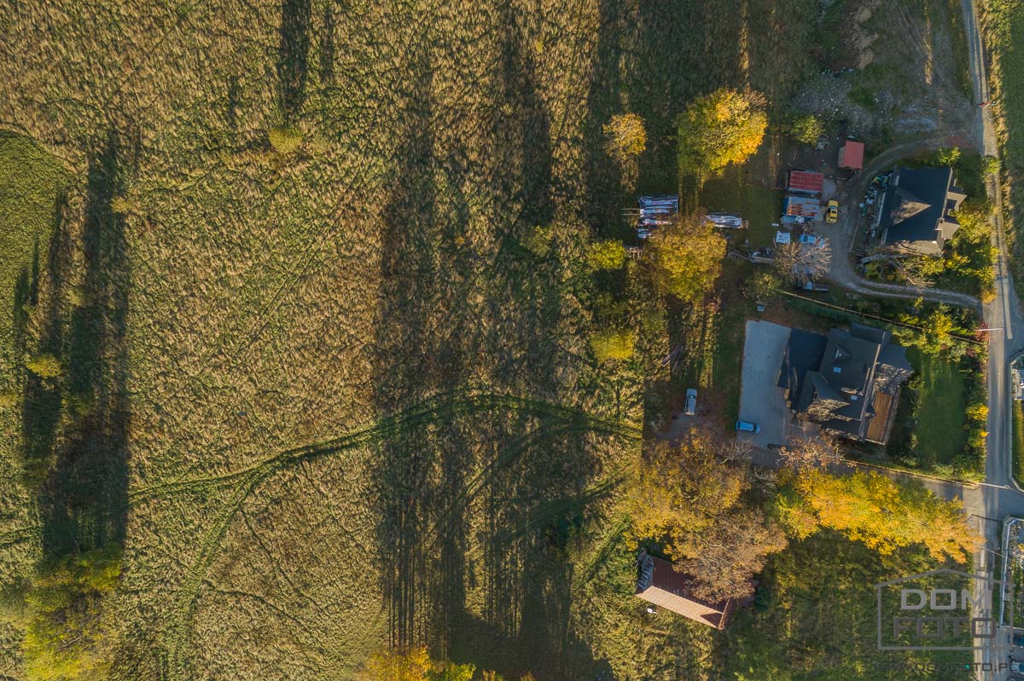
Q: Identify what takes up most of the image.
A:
grass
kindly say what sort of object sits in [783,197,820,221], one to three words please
shed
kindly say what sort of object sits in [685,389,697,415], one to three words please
vehicle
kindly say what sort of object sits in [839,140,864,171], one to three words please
shed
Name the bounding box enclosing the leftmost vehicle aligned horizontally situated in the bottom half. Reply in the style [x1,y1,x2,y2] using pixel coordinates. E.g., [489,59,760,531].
[735,420,758,432]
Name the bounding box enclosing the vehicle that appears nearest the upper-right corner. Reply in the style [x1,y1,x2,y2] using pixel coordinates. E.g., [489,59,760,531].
[826,201,839,223]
